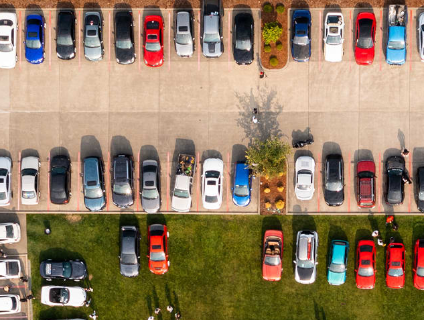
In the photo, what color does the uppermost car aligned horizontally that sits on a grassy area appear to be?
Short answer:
black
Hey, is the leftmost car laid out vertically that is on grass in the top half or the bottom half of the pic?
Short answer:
bottom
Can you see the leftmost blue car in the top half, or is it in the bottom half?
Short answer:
top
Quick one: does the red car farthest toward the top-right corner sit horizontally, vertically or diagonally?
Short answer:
vertically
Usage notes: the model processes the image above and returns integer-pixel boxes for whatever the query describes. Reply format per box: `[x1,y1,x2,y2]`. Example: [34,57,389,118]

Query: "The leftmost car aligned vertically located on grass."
[118,225,141,277]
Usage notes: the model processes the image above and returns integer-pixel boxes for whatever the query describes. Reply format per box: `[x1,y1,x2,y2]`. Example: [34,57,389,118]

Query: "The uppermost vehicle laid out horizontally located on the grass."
[40,258,87,281]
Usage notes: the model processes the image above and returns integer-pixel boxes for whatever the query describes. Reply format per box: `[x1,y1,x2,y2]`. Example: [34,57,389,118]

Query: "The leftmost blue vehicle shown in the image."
[23,14,47,65]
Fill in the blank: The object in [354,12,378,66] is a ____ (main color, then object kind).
red car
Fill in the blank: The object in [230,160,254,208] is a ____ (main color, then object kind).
blue car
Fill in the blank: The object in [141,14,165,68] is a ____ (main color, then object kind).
red car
